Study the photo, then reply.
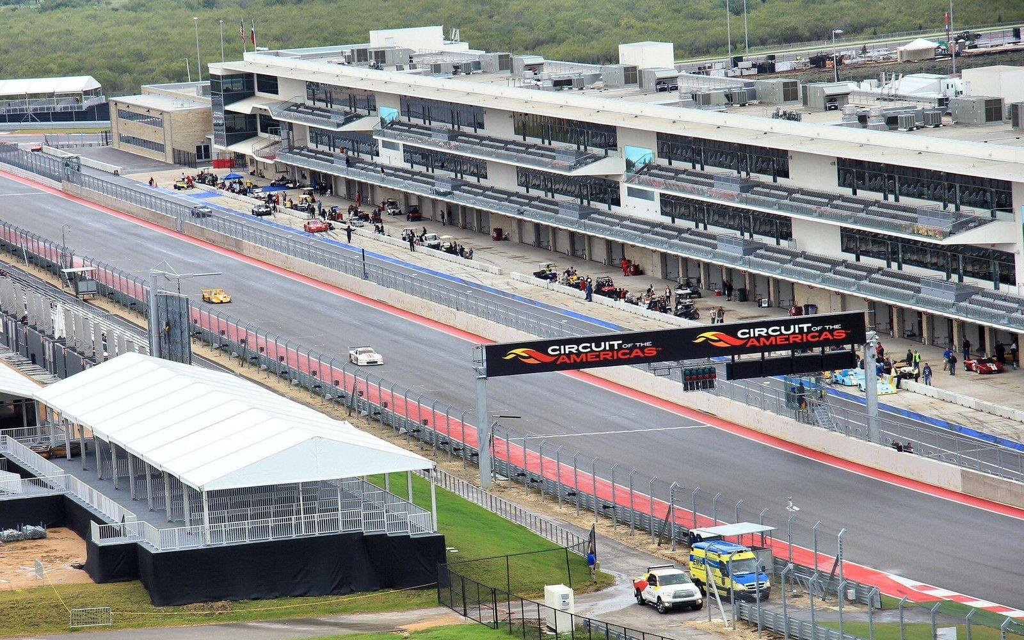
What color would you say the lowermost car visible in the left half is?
white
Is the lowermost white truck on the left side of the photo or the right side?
right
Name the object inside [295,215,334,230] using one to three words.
car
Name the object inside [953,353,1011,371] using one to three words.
car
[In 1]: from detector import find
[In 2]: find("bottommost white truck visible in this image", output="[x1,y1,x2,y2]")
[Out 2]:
[622,556,714,613]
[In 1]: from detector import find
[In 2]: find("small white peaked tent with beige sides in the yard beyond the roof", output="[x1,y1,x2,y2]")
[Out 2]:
[889,37,937,62]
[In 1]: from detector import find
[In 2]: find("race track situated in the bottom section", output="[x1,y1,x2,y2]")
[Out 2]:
[0,175,1024,614]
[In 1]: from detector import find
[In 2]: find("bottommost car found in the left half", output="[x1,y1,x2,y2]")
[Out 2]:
[348,342,385,365]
